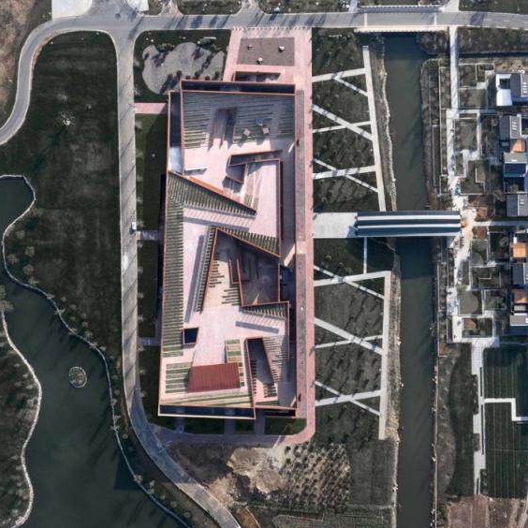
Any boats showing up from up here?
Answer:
No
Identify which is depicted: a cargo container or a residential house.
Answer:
residential house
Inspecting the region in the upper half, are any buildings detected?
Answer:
Yes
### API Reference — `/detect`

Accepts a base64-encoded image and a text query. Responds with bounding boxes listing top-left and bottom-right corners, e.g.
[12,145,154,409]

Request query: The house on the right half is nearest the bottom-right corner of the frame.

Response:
[509,314,528,335]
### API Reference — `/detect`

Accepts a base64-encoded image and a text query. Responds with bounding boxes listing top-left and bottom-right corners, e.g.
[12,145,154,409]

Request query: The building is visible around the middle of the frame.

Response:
[158,71,300,419]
